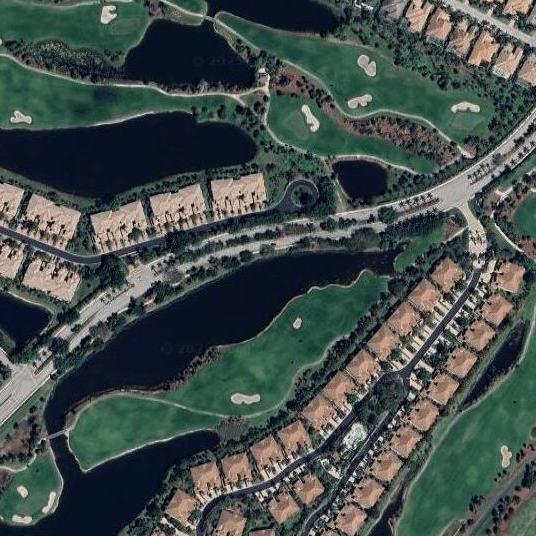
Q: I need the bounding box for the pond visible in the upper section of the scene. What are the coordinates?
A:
[332,159,389,198]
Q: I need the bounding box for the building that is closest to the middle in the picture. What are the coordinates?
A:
[209,171,268,219]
